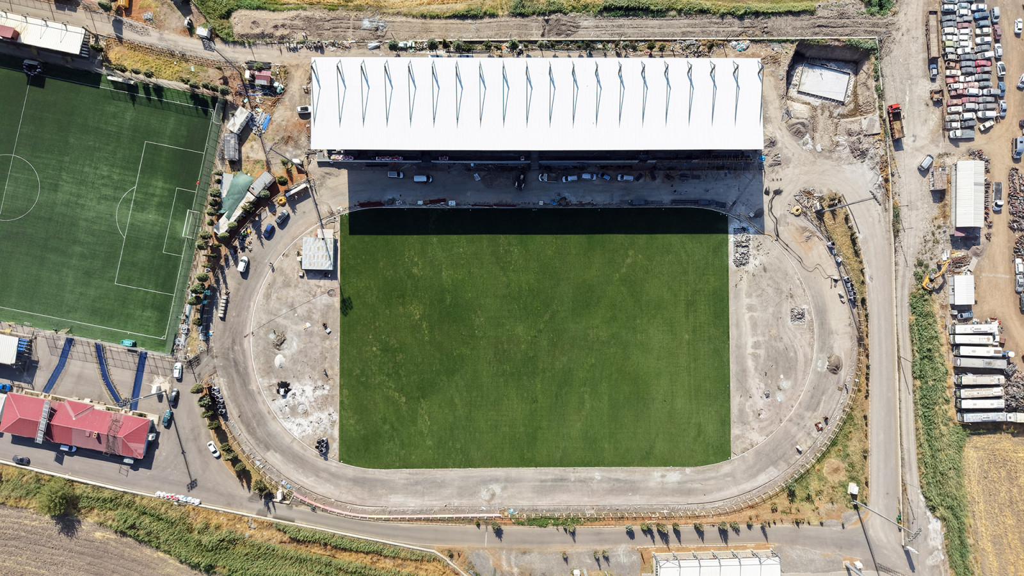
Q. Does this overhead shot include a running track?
Yes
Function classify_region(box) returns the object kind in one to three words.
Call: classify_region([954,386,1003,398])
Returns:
vehicle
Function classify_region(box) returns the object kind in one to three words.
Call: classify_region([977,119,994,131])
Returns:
vehicle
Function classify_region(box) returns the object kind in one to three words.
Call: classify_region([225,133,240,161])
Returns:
building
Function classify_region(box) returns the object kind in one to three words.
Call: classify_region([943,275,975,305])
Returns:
building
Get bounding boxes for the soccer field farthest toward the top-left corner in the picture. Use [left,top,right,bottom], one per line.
[0,54,222,354]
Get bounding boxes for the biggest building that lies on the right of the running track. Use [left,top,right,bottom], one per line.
[946,161,984,237]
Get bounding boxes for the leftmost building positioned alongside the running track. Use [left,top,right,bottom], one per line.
[0,391,160,459]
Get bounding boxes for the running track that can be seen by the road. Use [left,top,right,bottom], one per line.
[214,162,858,507]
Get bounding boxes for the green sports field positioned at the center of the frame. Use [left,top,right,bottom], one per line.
[339,207,731,468]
